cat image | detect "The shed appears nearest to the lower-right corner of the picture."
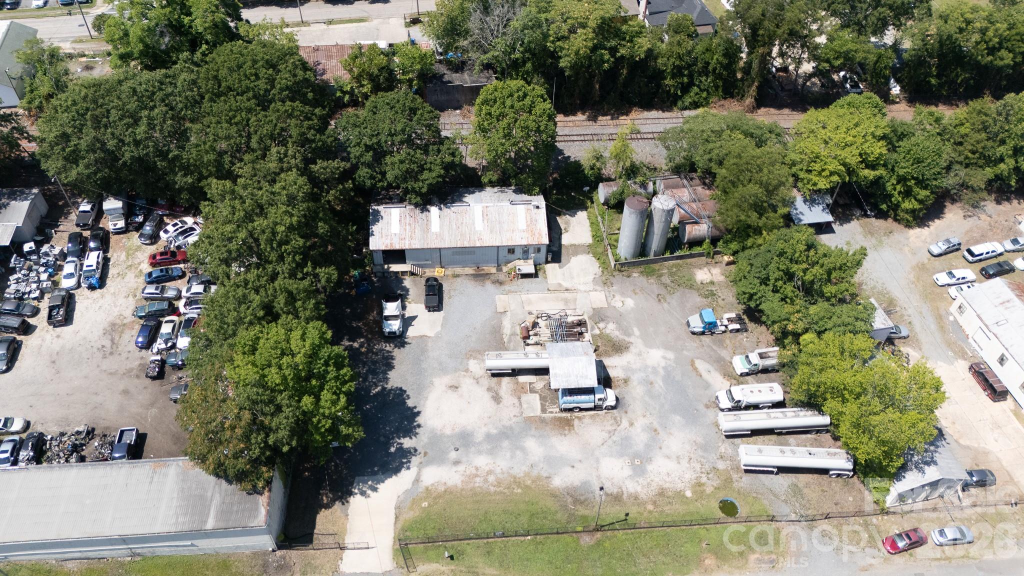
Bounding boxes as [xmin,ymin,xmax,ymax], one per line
[886,433,978,505]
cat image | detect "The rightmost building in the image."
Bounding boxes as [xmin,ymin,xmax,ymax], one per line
[949,274,1024,410]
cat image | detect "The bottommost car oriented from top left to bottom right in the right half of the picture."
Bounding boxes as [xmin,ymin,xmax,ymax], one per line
[966,363,1009,400]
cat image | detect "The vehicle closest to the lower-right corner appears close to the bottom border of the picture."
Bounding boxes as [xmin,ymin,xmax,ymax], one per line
[929,525,977,548]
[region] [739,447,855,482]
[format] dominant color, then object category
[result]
white trailer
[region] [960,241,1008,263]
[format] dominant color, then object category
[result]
white car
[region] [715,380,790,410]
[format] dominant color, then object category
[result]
white truck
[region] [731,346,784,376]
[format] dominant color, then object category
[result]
white truck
